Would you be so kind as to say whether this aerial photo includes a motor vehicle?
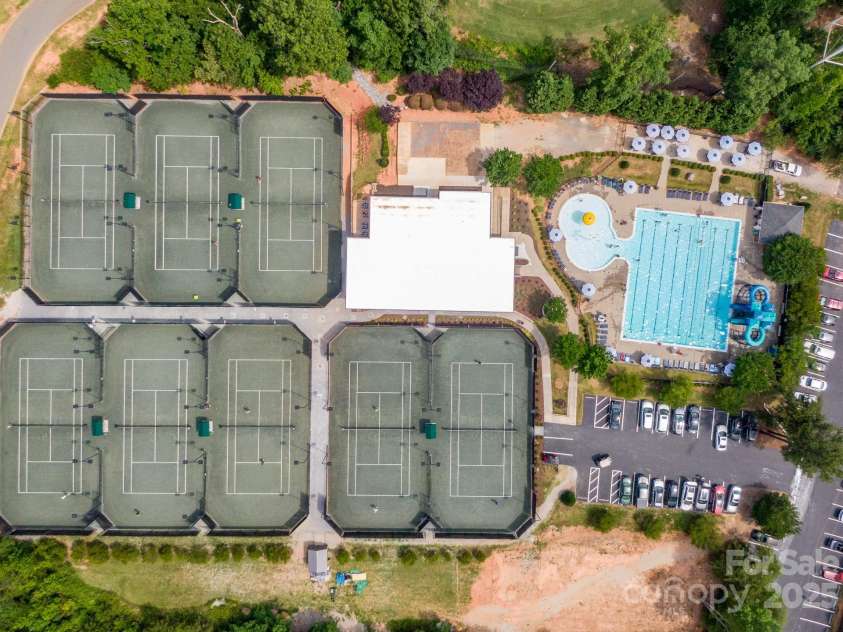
Yes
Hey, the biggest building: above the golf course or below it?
below it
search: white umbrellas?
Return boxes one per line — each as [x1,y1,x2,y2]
[674,128,689,143]
[605,346,617,358]
[746,142,761,157]
[548,228,563,242]
[718,136,733,150]
[730,153,745,168]
[719,192,733,206]
[645,124,659,139]
[580,282,594,296]
[640,353,654,367]
[622,179,637,194]
[706,148,720,162]
[651,140,666,155]
[631,137,645,151]
[674,144,690,160]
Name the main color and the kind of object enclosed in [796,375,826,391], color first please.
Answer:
white car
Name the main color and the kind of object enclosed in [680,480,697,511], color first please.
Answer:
white vehicle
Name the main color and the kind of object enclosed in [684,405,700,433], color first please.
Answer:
gray car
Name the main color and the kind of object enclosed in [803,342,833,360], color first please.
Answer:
white vehicle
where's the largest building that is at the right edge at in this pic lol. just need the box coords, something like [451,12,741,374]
[751,202,804,245]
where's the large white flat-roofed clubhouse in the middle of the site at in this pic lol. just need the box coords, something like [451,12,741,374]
[347,186,515,311]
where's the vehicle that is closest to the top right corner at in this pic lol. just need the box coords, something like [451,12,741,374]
[769,160,804,178]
